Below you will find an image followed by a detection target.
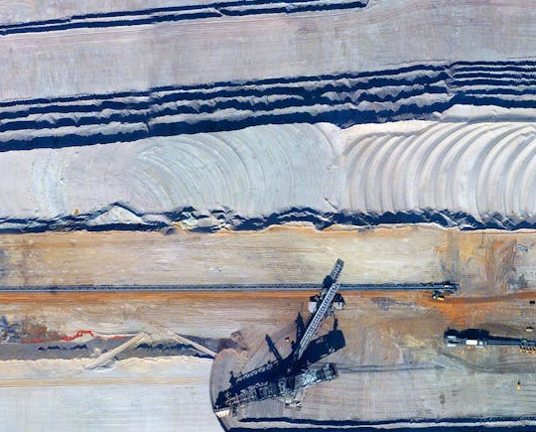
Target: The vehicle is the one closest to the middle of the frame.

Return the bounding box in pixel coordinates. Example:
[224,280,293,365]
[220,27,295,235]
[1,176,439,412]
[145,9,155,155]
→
[308,288,344,310]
